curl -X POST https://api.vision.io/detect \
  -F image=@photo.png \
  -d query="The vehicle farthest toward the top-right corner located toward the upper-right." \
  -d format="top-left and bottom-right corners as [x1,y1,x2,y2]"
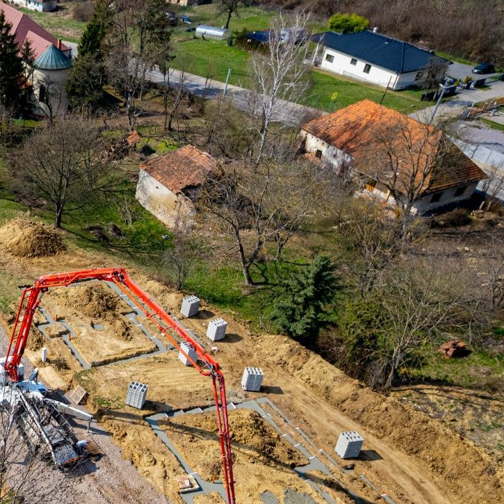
[469,61,501,73]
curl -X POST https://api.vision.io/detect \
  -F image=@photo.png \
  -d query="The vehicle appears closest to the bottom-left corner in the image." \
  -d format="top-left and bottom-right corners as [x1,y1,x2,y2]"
[0,266,238,504]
